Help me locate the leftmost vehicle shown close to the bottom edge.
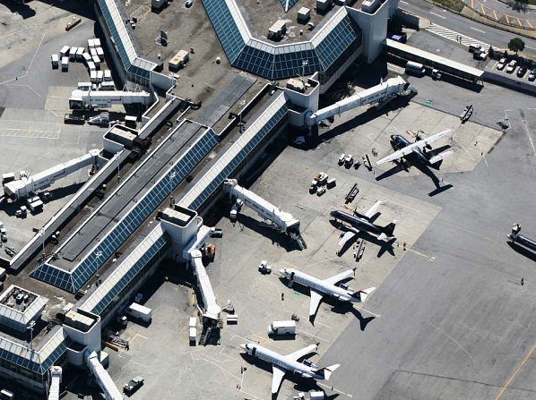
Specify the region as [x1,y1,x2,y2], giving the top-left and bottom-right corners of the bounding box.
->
[0,387,21,400]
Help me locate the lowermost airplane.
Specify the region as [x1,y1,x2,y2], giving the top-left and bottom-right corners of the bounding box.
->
[242,343,339,394]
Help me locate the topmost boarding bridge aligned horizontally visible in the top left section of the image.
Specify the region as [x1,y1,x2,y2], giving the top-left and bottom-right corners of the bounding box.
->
[64,88,150,117]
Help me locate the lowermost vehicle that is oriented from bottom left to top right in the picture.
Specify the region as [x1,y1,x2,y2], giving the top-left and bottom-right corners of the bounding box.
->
[123,377,144,393]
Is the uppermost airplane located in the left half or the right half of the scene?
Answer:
right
